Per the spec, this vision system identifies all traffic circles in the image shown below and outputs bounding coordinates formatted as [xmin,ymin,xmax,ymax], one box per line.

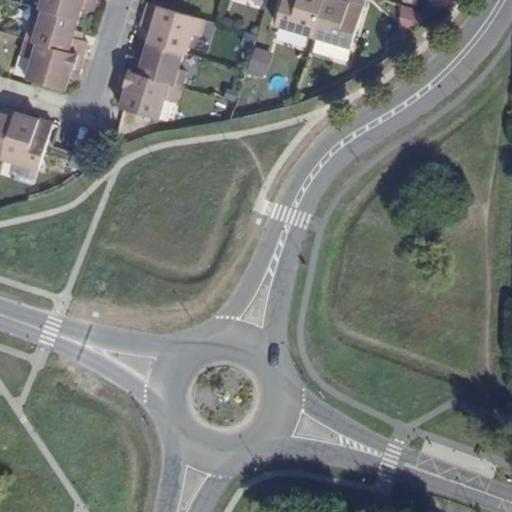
[149,321,299,471]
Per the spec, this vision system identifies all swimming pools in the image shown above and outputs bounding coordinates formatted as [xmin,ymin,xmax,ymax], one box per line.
[270,74,290,92]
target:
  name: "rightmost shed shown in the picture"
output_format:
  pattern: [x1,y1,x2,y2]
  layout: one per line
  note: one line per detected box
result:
[400,3,416,28]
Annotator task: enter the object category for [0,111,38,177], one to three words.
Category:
house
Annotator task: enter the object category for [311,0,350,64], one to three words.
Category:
house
